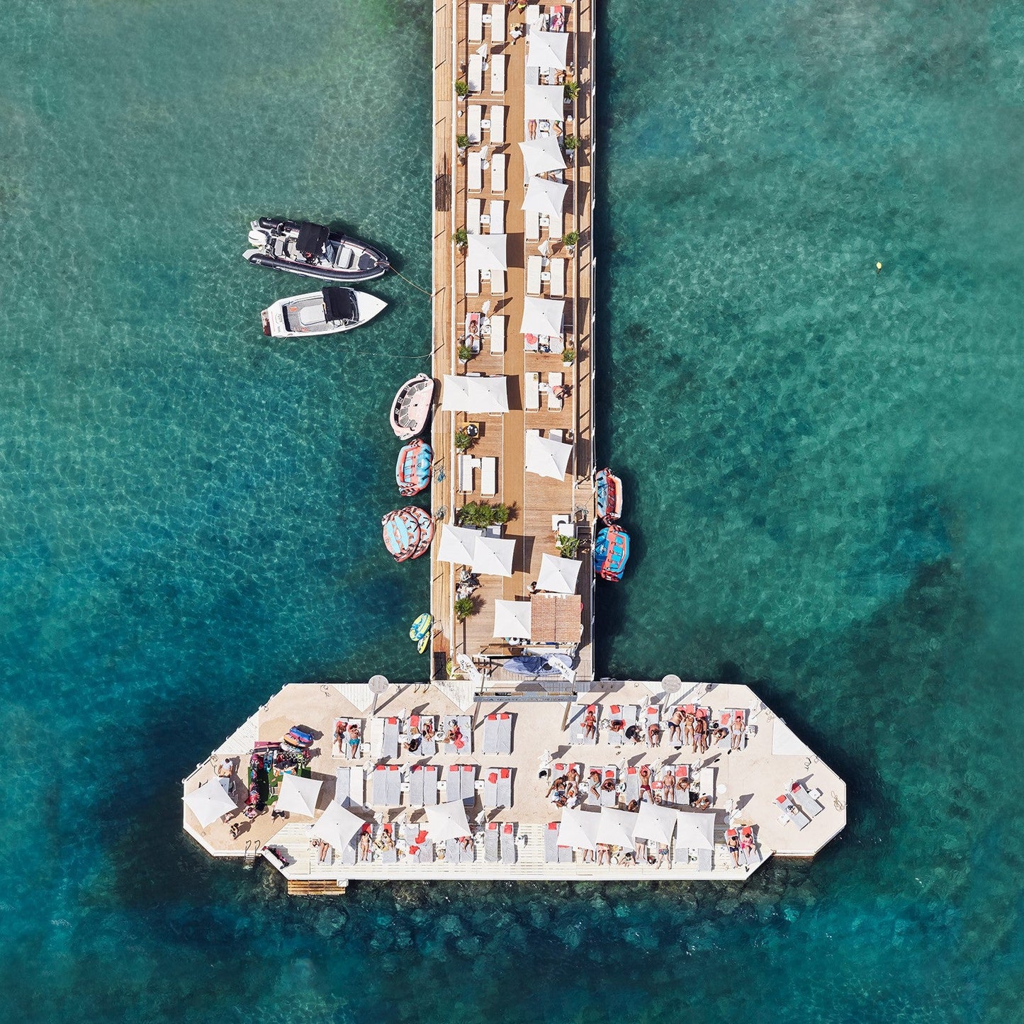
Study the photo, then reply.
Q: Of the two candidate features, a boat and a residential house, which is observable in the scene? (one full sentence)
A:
Of the two, only a boat appears.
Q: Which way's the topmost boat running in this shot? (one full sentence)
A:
The topmost boat runs horizontally in the image.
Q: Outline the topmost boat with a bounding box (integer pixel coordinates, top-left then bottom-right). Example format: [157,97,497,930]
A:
[242,216,389,279]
